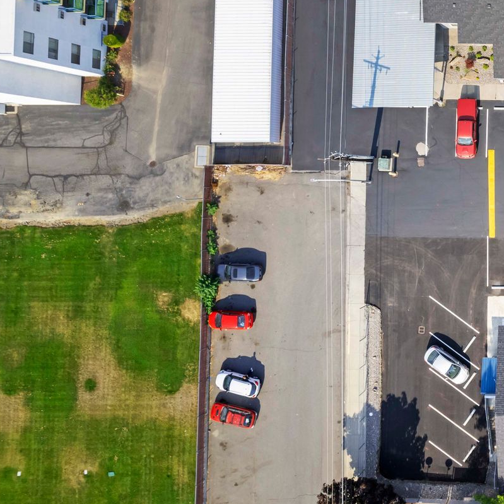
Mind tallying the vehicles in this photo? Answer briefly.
6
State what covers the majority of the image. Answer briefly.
paved ground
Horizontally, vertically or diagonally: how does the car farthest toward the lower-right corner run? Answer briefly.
diagonally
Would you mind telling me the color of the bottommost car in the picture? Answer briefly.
red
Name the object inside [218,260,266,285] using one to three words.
car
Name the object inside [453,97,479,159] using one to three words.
truck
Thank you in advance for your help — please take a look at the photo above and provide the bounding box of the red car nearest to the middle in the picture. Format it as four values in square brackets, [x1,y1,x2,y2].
[208,309,258,334]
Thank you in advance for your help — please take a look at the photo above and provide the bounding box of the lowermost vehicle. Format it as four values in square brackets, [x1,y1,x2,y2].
[211,400,260,429]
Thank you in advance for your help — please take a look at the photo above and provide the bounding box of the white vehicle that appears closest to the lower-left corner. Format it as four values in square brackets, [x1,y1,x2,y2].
[215,369,264,399]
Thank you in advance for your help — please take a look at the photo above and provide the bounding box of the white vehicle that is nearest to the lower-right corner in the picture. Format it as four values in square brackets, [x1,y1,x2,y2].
[424,344,471,385]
